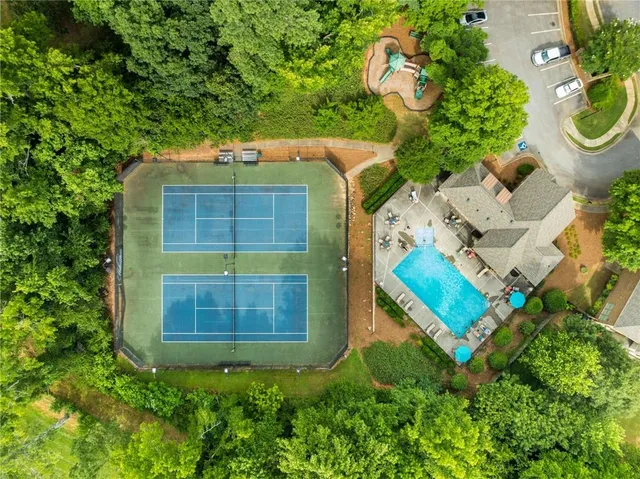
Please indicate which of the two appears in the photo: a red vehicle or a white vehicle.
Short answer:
white vehicle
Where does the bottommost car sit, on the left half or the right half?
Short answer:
right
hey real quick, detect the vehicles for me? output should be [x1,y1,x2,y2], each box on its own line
[553,78,584,99]
[530,44,570,66]
[458,11,486,26]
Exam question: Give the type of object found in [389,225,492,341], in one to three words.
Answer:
swimming pool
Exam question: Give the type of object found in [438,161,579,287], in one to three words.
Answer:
building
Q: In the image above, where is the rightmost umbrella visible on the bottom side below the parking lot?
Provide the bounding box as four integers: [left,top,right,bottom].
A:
[509,291,525,307]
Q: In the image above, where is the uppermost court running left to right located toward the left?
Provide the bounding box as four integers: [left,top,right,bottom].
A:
[122,163,346,263]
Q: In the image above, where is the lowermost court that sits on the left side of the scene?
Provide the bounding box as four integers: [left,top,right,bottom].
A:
[122,263,346,366]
